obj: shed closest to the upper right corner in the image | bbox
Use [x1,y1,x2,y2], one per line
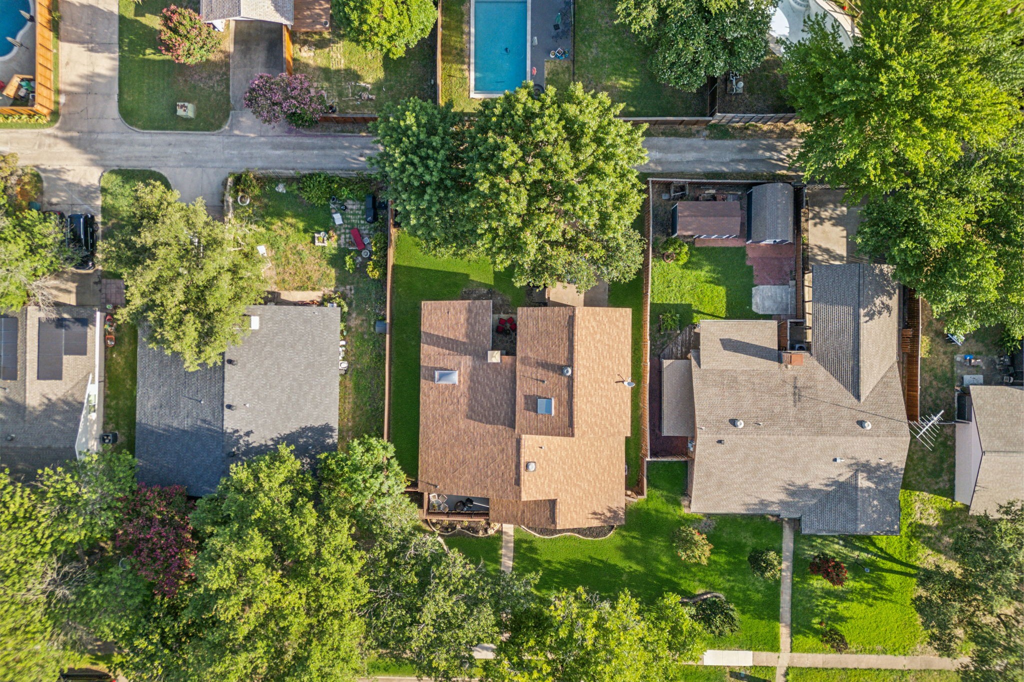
[745,184,800,246]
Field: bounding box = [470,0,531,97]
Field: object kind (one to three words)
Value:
swimming pool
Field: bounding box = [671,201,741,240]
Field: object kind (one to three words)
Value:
shed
